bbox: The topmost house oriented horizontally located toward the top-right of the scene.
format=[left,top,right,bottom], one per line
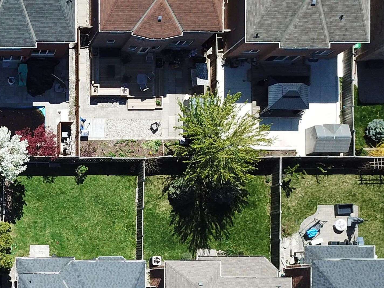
[226,0,371,63]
